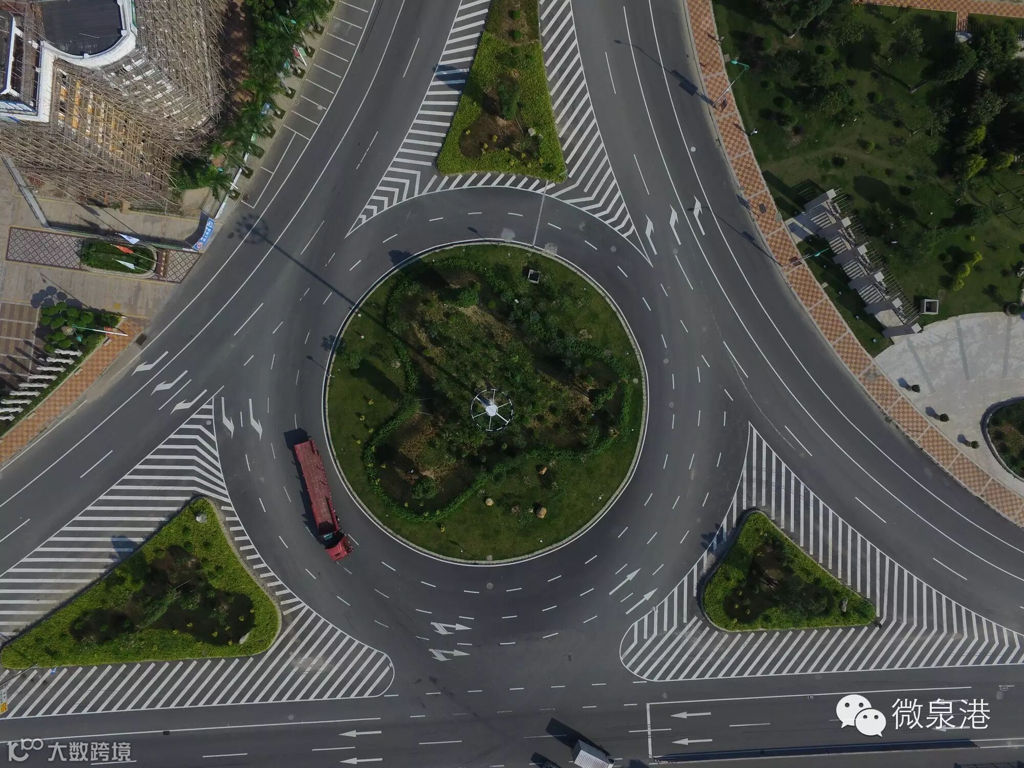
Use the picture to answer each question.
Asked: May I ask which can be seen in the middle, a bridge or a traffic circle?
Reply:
traffic circle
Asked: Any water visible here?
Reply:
No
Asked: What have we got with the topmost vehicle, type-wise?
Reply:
truck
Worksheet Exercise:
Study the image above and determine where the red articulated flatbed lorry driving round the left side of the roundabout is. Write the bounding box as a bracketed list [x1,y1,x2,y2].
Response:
[295,439,358,564]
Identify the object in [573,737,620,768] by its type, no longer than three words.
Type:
truck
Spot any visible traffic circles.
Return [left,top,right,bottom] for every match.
[270,190,697,617]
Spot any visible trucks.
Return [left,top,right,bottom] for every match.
[295,439,358,564]
[573,737,620,768]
